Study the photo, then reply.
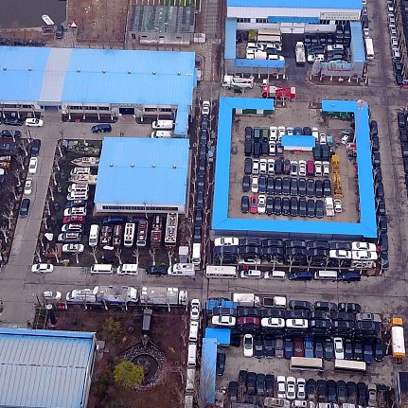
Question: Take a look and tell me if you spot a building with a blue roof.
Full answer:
Yes, this view includes a building with a blue roof.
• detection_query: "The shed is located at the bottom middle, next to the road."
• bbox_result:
[201,337,216,407]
